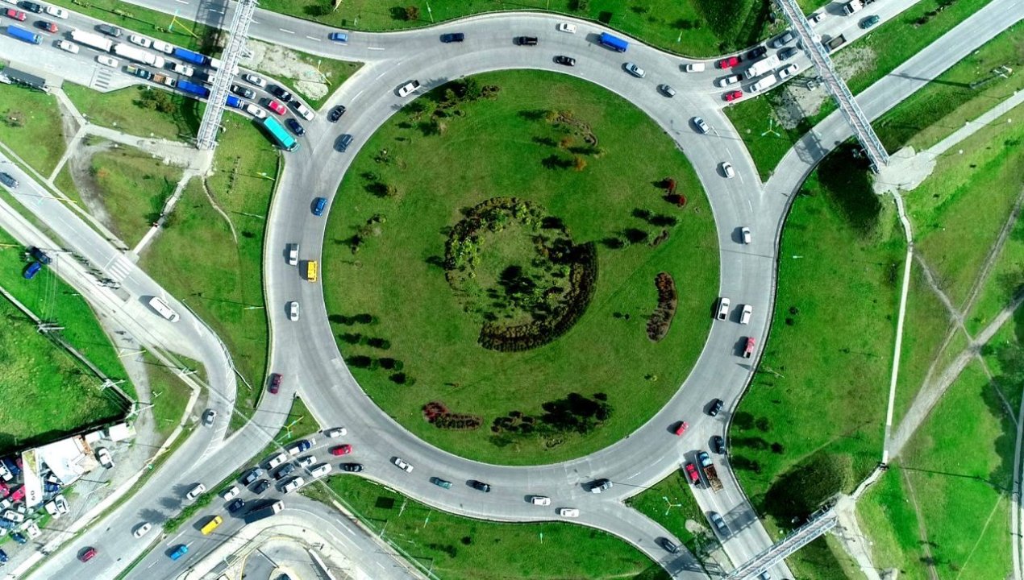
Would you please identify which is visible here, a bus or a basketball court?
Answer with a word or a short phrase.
bus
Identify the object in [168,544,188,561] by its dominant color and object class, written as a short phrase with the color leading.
blue car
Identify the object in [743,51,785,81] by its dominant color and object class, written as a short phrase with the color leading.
white truck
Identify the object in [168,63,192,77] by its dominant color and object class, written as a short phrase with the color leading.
white vehicle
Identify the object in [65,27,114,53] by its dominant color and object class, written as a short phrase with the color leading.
white bus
